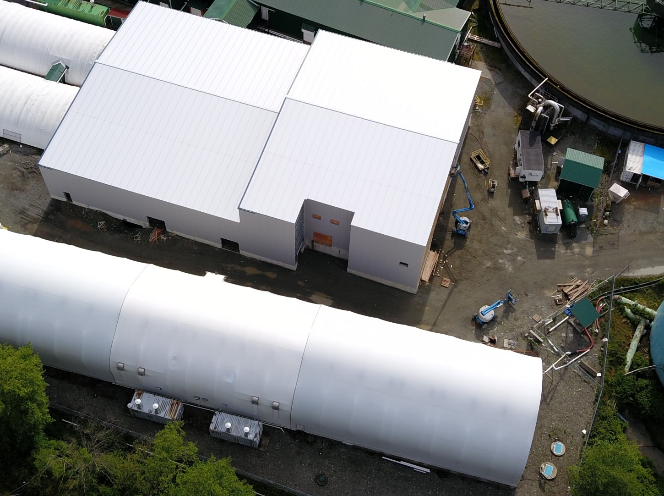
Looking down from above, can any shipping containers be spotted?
Yes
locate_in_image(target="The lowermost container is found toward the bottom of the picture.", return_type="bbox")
[209,412,264,448]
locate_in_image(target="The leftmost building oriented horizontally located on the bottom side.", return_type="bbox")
[0,231,542,488]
